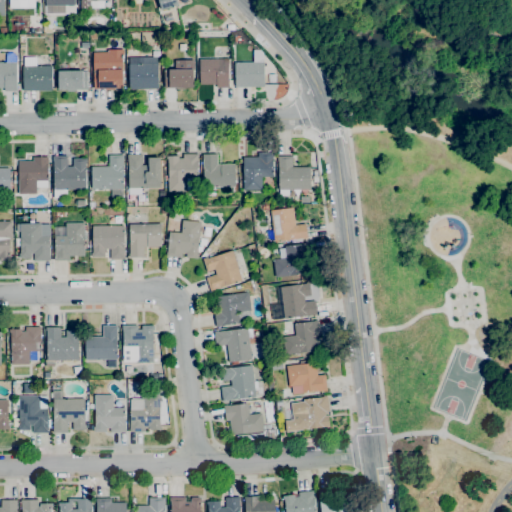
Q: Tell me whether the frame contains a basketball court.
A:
Yes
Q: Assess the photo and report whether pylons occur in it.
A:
No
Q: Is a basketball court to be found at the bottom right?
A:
Yes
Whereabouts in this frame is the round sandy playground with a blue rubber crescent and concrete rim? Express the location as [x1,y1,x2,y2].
[424,215,470,260]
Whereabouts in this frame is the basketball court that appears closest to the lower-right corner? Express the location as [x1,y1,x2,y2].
[430,346,488,422]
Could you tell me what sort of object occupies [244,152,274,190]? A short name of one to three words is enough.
house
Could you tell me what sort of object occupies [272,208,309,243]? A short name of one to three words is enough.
house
